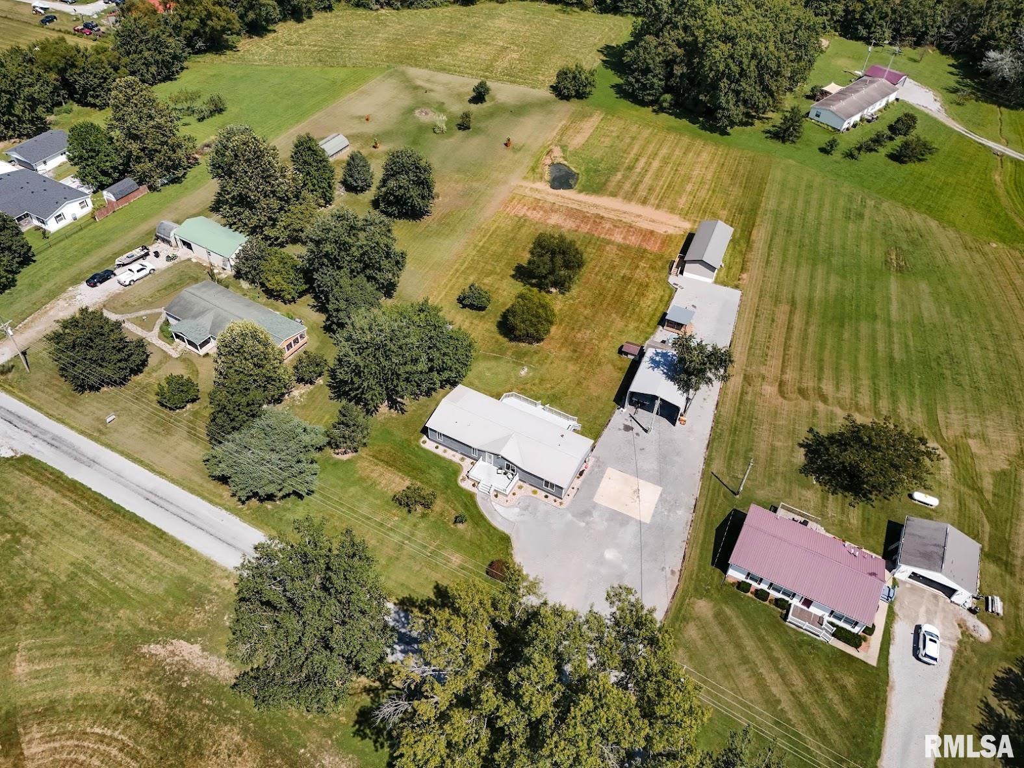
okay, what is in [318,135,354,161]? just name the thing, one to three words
building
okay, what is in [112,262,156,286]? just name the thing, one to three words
truck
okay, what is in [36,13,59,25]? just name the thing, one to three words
vehicle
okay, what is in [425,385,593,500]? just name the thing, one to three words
house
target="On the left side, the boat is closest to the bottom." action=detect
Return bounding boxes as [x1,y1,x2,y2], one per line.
[113,239,151,261]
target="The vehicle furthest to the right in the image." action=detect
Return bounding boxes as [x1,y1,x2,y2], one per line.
[916,621,944,666]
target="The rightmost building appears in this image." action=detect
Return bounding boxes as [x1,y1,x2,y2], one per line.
[892,516,981,608]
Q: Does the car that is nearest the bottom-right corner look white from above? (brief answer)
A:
Yes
